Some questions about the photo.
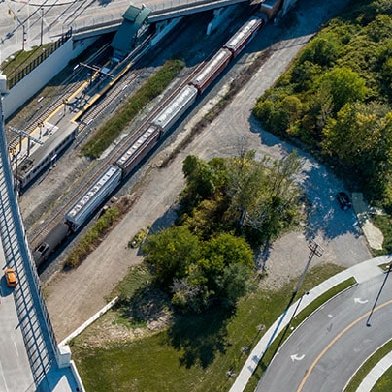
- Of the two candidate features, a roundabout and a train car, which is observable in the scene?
train car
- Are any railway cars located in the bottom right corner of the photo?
No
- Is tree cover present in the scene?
Yes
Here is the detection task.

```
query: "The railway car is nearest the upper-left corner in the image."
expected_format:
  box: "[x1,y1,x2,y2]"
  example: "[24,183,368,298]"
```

[15,120,78,187]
